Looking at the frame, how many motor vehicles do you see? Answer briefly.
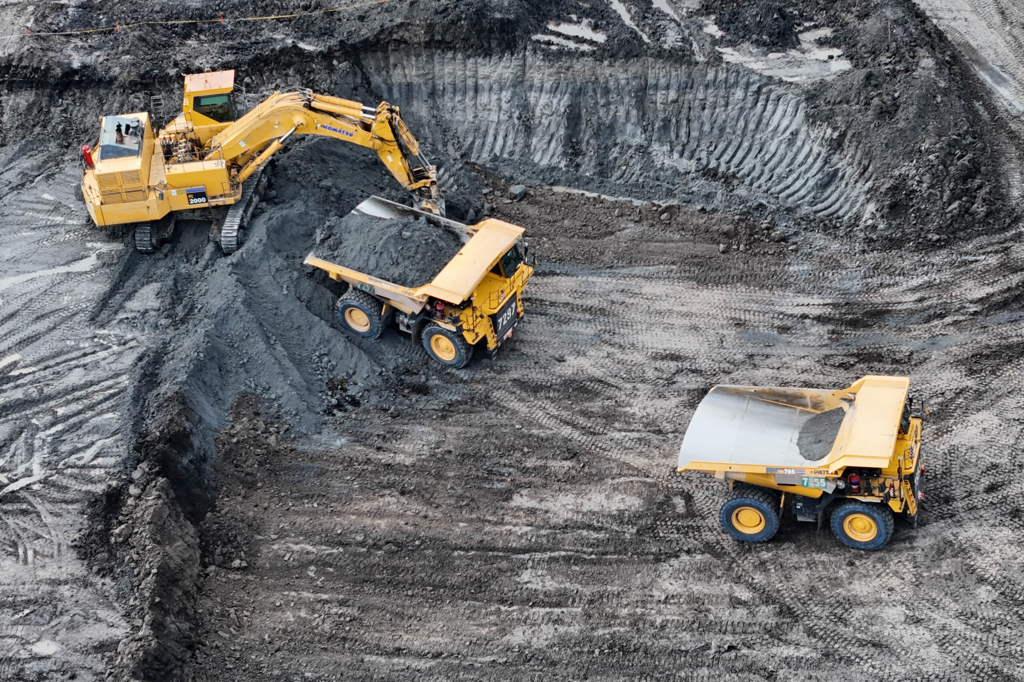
3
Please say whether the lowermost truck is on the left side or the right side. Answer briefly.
right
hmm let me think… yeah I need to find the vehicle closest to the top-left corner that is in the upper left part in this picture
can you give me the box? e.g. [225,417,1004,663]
[81,66,446,250]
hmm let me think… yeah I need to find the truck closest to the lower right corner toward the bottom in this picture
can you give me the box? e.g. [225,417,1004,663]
[680,376,929,550]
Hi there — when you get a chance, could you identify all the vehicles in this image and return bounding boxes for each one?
[680,376,929,550]
[304,199,541,368]
[81,66,446,250]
